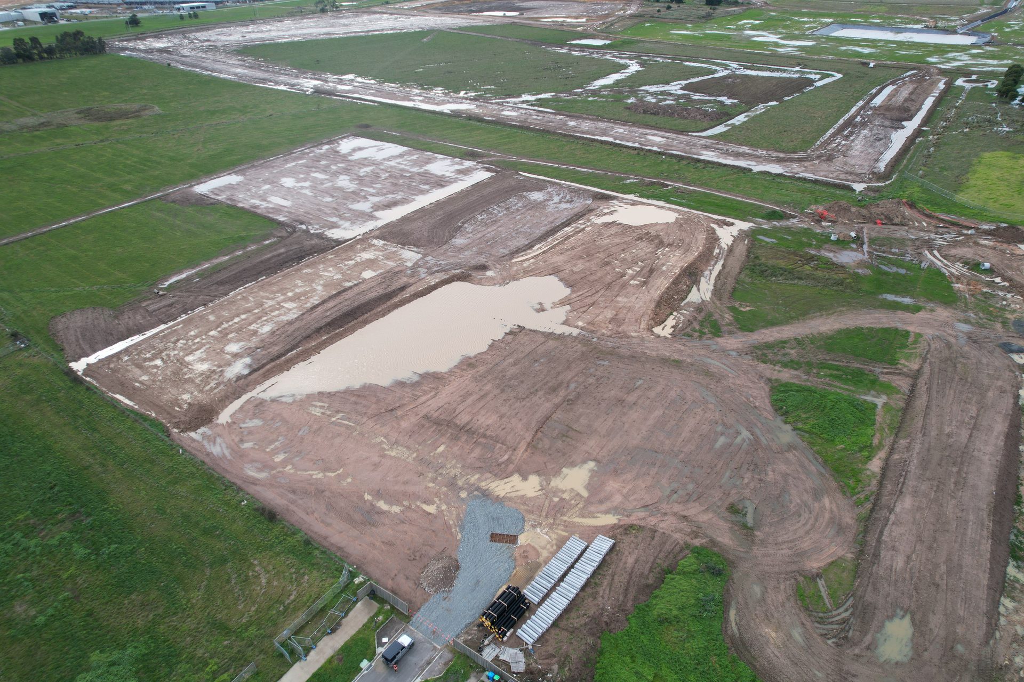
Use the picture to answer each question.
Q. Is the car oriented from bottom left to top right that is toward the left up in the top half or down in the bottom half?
bottom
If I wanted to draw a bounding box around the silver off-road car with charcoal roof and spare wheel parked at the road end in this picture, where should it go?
[379,631,418,667]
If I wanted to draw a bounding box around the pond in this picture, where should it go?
[218,273,582,425]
